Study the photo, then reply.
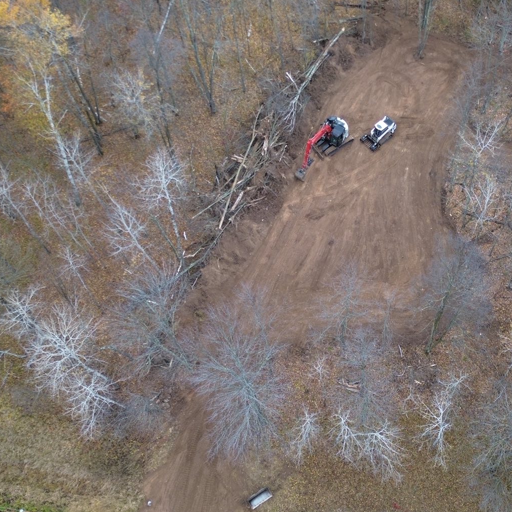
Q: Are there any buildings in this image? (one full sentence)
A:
No, there appears to be no building in this shot.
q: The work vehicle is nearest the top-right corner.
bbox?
[360,117,397,153]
